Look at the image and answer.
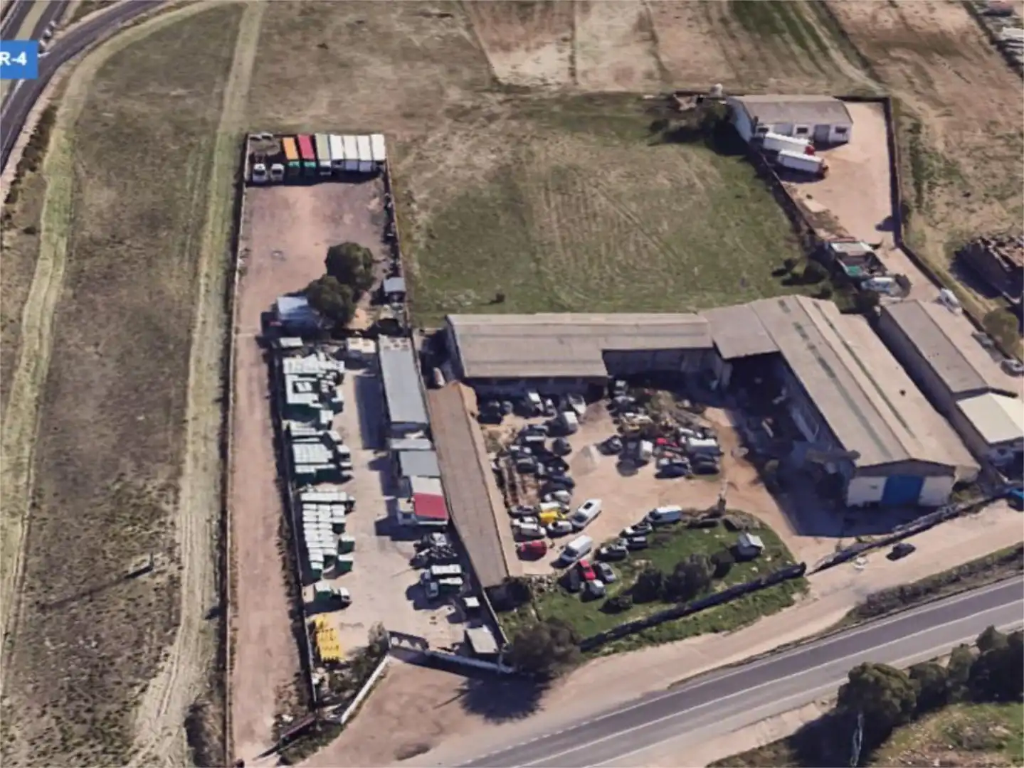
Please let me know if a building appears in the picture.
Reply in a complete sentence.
Yes, a building can be made out from above.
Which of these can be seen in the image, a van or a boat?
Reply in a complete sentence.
Looking from above, you can make out a van.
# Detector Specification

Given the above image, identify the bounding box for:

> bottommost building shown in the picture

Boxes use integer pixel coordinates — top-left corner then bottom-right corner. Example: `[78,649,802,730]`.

[467,628,497,666]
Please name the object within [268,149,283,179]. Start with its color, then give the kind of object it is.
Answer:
gray vehicle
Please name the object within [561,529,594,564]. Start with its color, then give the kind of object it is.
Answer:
white van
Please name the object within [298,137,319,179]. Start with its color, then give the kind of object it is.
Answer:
red truck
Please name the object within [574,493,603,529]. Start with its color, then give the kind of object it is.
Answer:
white camper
